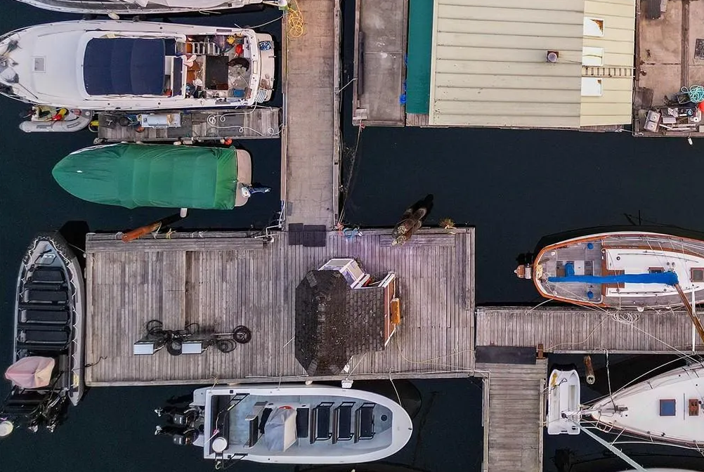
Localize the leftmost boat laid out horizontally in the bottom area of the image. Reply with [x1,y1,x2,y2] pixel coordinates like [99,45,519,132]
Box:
[170,380,414,468]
